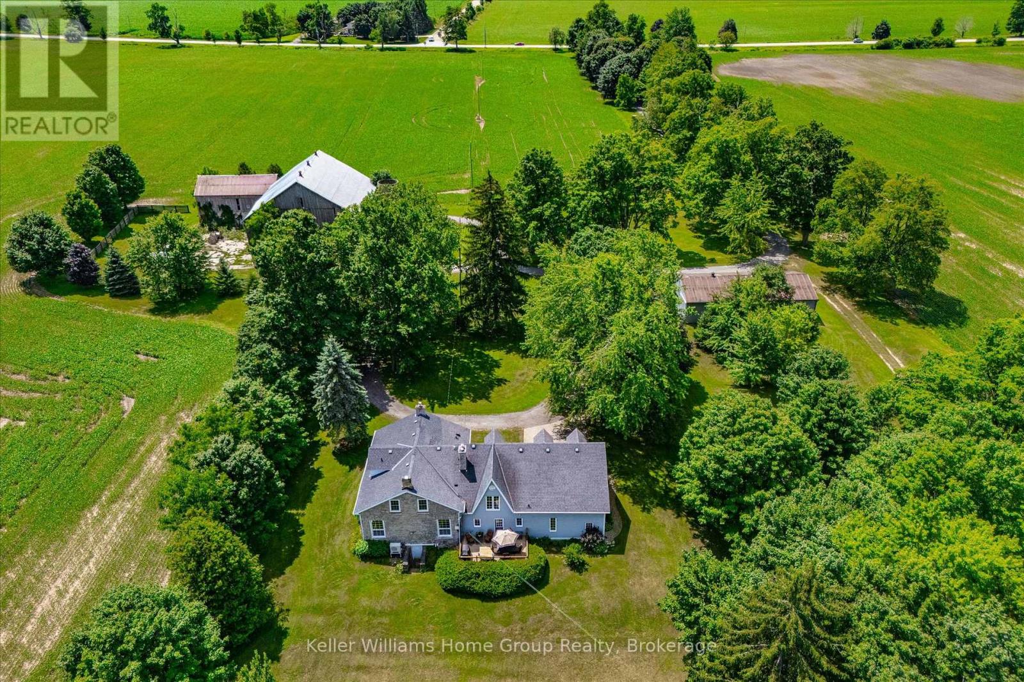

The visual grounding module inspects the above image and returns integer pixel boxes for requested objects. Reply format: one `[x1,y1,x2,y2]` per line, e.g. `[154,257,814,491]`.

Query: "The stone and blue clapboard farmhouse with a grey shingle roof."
[352,404,611,563]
